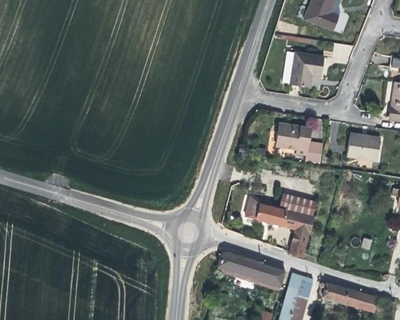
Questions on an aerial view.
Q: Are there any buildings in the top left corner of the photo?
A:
No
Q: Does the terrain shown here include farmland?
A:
Yes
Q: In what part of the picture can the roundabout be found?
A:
bottom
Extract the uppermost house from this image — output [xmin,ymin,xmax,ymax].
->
[304,0,342,31]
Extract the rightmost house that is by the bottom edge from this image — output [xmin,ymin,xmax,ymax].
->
[324,283,378,314]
